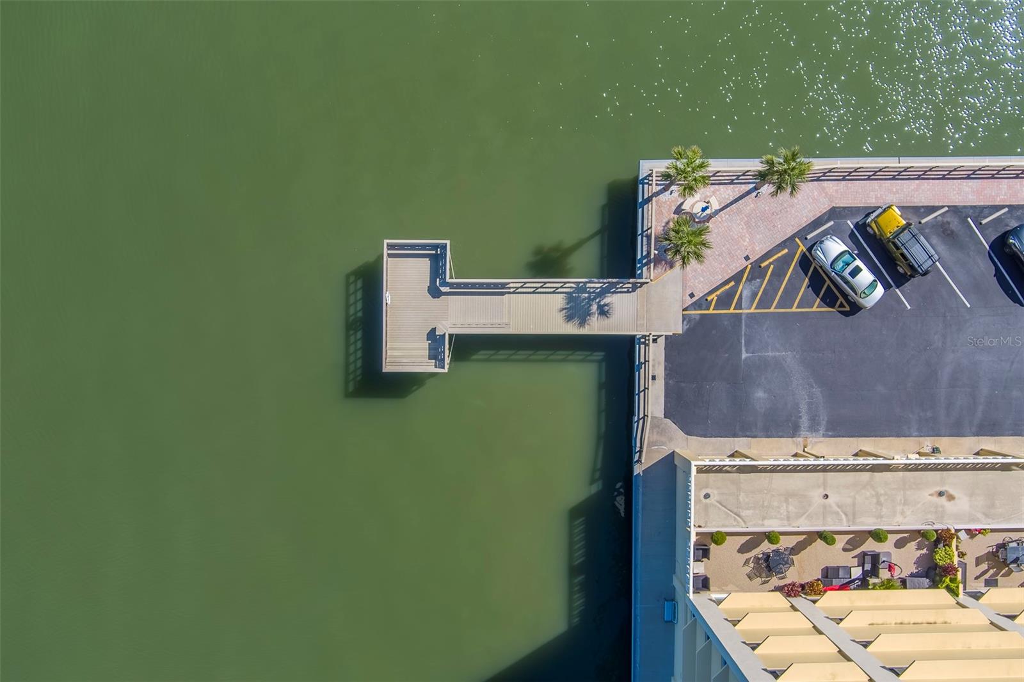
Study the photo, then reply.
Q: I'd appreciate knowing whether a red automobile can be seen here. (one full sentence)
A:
No, no red automobile is visible in the scene.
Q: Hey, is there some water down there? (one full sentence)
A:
Yes, there's water in this view.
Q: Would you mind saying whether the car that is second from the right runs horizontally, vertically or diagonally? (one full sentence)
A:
The car that is second from the right has been laid out diagonally relative to the frame.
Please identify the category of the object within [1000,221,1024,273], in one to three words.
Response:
car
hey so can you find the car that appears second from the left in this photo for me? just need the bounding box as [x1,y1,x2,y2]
[862,199,939,280]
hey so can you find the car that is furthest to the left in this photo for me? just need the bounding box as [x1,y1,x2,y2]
[809,234,885,311]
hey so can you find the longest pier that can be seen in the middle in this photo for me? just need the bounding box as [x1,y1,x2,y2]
[384,240,673,372]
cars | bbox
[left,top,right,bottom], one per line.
[1000,221,1024,273]
[809,234,885,311]
[862,199,939,280]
